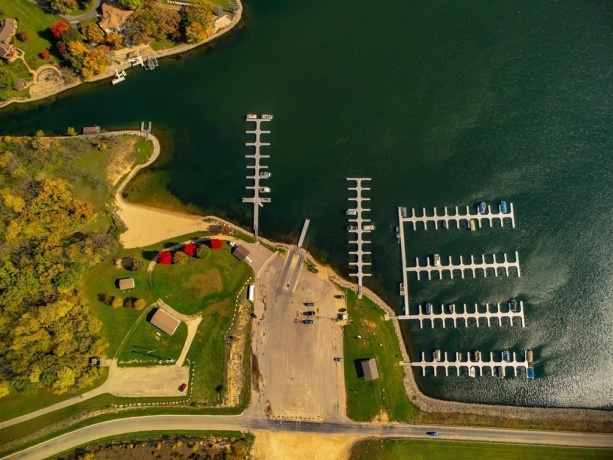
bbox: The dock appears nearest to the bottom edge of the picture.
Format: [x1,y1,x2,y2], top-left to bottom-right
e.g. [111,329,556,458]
[399,351,530,377]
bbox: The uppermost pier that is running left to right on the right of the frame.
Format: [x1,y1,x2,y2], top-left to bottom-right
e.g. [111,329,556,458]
[402,203,517,231]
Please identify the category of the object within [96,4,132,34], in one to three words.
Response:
house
